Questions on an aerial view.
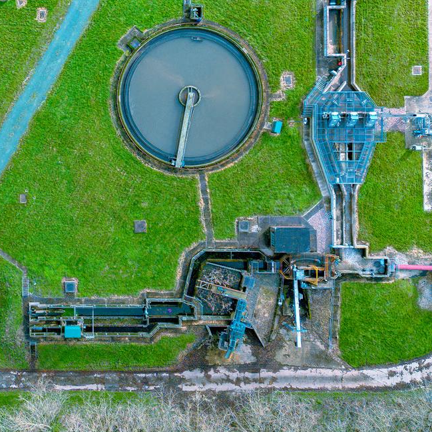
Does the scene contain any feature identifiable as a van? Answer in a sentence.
No, I can't see a single van in this photo.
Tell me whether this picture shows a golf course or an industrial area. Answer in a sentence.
The area seen from above is an industrial area.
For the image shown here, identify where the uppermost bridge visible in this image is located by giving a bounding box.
[173,92,198,171]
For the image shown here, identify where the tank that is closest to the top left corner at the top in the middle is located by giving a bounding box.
[116,20,261,171]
